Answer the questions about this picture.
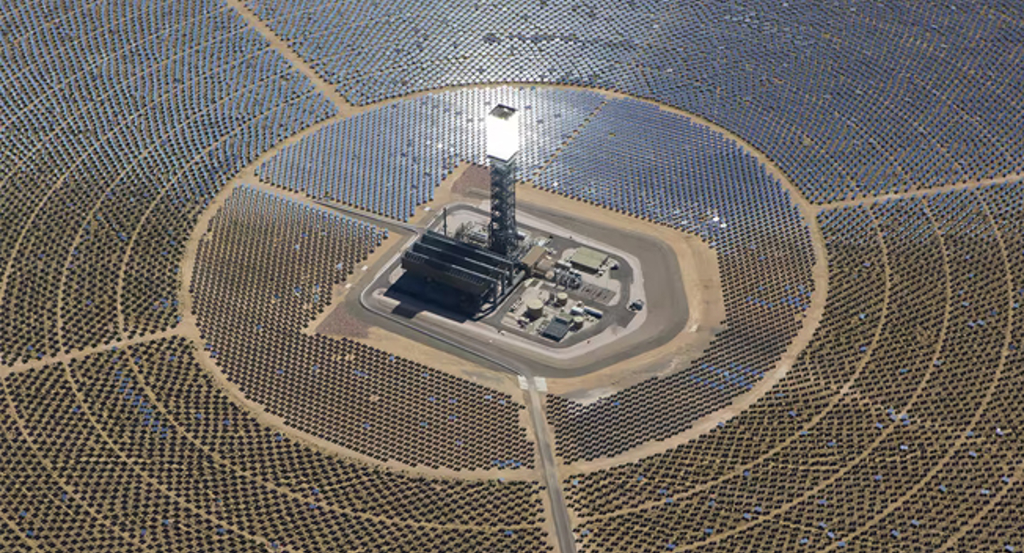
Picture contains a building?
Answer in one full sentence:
Yes, you can see a building in this photo.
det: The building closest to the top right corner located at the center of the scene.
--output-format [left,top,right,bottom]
[570,247,608,277]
